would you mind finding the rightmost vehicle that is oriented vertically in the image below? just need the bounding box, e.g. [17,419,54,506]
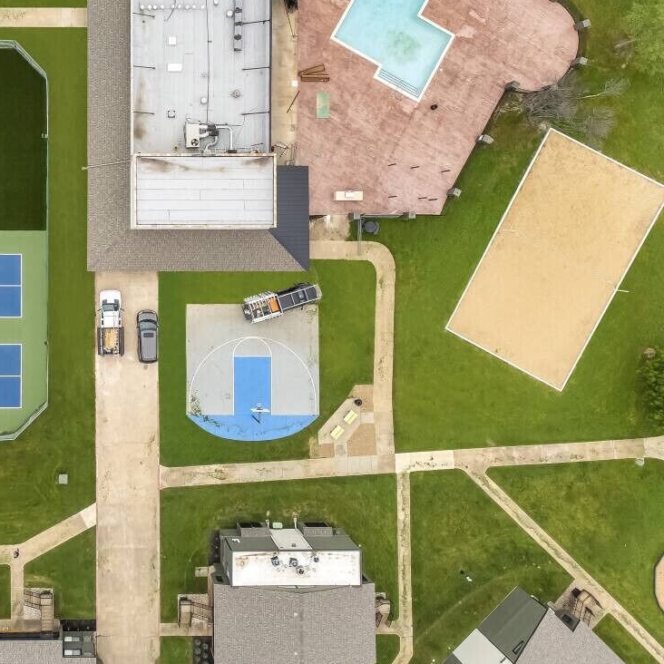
[136,309,162,364]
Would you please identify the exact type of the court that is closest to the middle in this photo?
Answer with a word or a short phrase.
basketball court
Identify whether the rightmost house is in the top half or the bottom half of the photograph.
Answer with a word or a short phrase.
bottom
